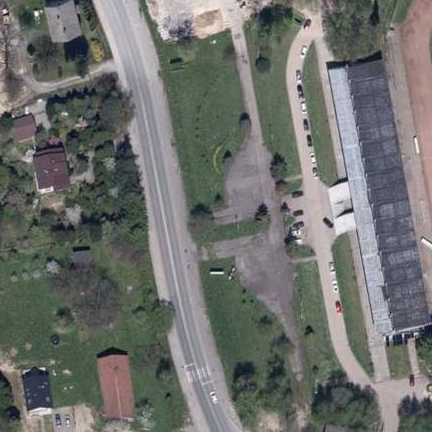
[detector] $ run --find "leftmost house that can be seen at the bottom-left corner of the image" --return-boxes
[23,371,52,412]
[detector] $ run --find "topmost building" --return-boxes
[45,0,81,46]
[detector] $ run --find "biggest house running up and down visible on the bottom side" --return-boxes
[98,355,134,421]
